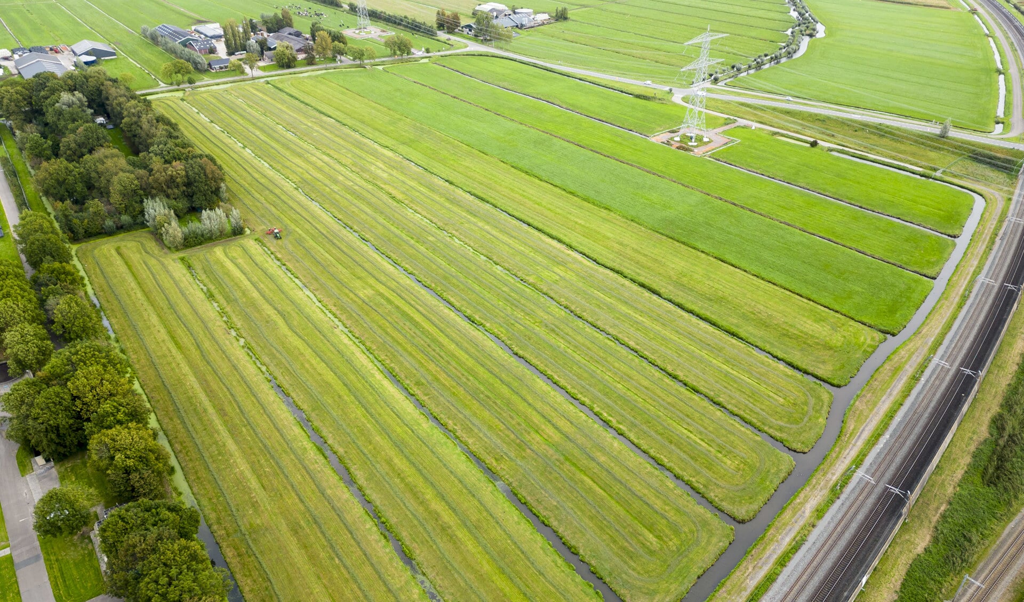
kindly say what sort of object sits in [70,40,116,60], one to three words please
barn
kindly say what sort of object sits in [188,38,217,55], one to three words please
barn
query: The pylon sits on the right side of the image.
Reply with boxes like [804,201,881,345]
[671,23,730,145]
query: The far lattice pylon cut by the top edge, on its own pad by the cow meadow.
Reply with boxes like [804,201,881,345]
[353,0,375,34]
